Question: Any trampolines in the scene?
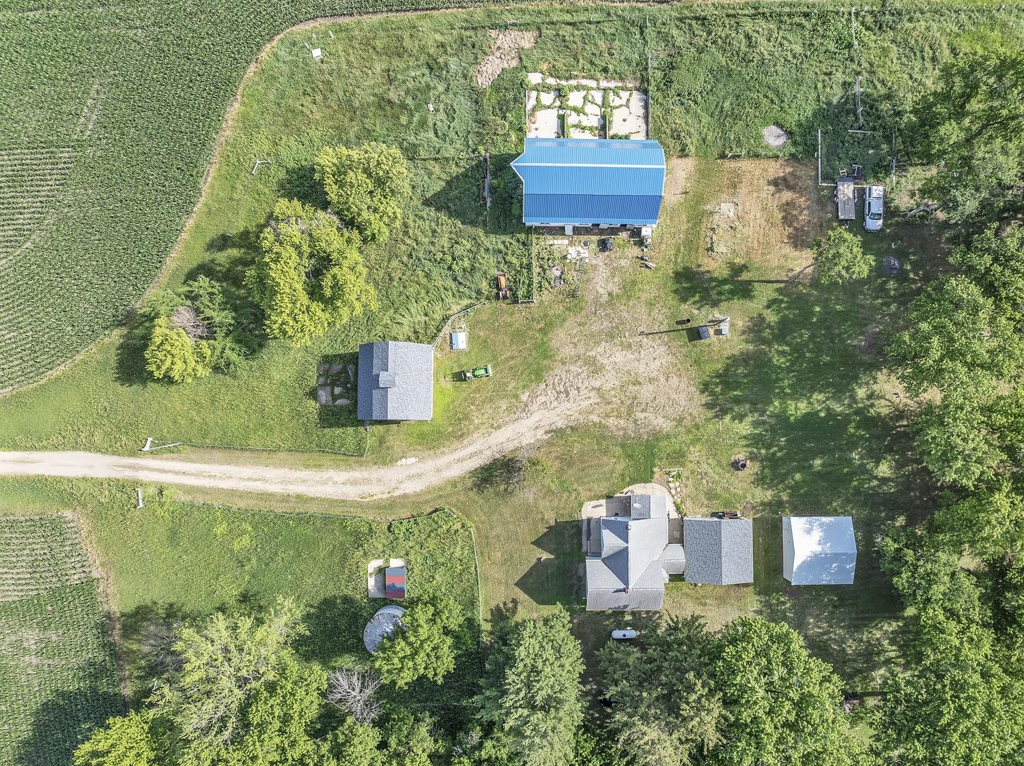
No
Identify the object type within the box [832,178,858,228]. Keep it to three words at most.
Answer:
trailer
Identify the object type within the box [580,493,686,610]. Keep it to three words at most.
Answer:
house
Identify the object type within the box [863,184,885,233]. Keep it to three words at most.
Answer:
truck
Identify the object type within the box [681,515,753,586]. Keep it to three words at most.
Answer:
building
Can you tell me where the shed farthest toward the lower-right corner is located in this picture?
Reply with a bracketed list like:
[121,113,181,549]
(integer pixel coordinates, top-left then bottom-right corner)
[784,515,859,586]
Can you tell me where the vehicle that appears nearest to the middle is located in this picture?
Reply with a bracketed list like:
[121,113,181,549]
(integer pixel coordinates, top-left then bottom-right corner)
[467,366,493,380]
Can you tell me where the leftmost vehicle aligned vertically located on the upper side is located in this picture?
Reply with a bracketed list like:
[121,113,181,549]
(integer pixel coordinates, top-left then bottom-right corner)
[496,270,510,300]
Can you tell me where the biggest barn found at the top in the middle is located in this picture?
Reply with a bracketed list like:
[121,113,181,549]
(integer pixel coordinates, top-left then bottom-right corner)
[508,137,667,229]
